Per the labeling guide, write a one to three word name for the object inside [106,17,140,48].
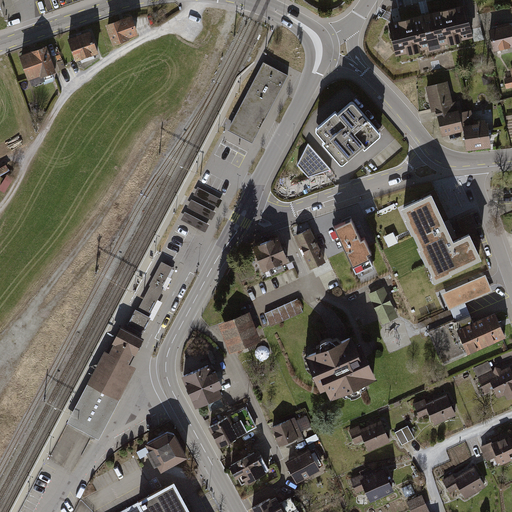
house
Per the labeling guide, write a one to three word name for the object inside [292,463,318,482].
solar panel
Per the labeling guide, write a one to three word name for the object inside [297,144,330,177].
building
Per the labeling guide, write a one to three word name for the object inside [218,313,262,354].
barn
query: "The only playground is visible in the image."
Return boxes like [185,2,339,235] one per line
[382,314,426,352]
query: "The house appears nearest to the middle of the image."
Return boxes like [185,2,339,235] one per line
[255,239,294,277]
